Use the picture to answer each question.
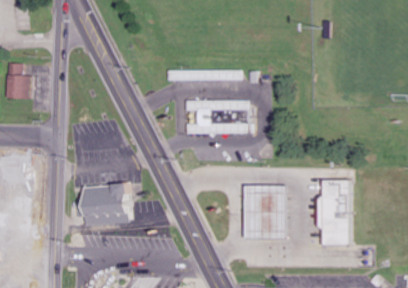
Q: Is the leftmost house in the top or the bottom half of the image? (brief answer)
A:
top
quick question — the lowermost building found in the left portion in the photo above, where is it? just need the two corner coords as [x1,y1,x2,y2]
[76,183,138,226]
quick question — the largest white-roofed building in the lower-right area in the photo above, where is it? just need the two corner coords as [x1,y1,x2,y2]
[314,181,352,246]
